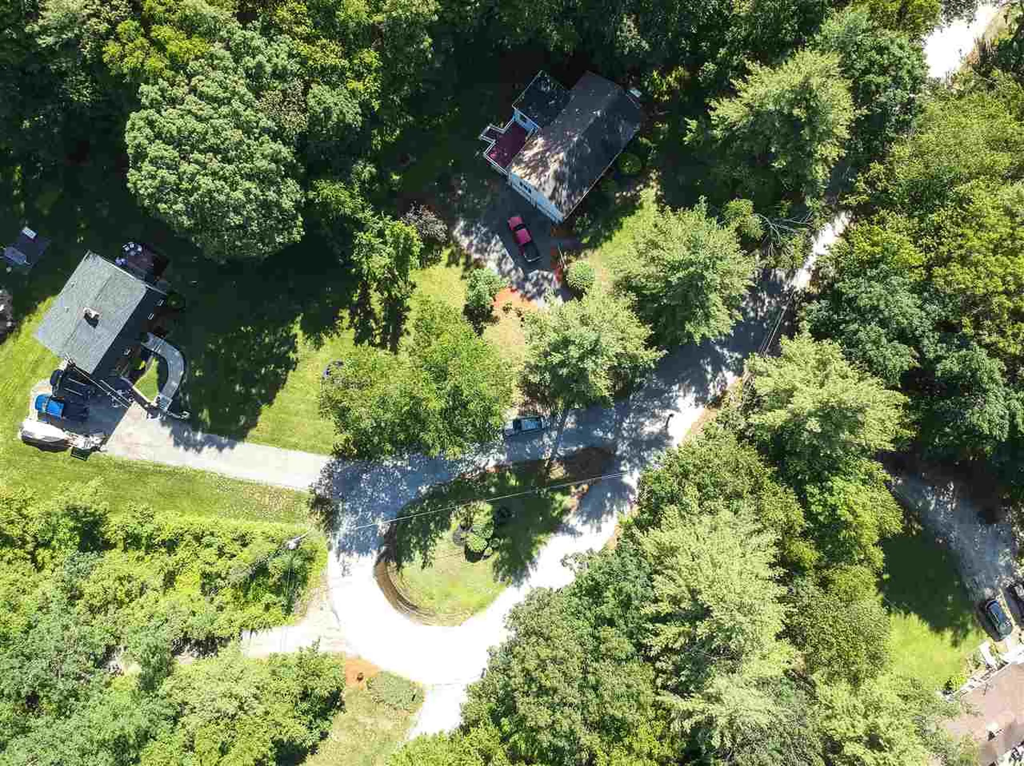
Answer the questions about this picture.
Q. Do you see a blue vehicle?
Yes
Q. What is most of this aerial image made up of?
trees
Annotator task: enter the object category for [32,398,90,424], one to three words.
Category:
truck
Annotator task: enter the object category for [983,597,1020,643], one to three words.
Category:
car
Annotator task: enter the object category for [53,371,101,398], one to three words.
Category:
car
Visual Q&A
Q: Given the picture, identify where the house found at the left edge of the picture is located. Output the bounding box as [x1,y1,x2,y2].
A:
[33,250,166,375]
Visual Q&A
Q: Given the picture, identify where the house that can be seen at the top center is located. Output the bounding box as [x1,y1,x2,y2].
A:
[481,69,643,223]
